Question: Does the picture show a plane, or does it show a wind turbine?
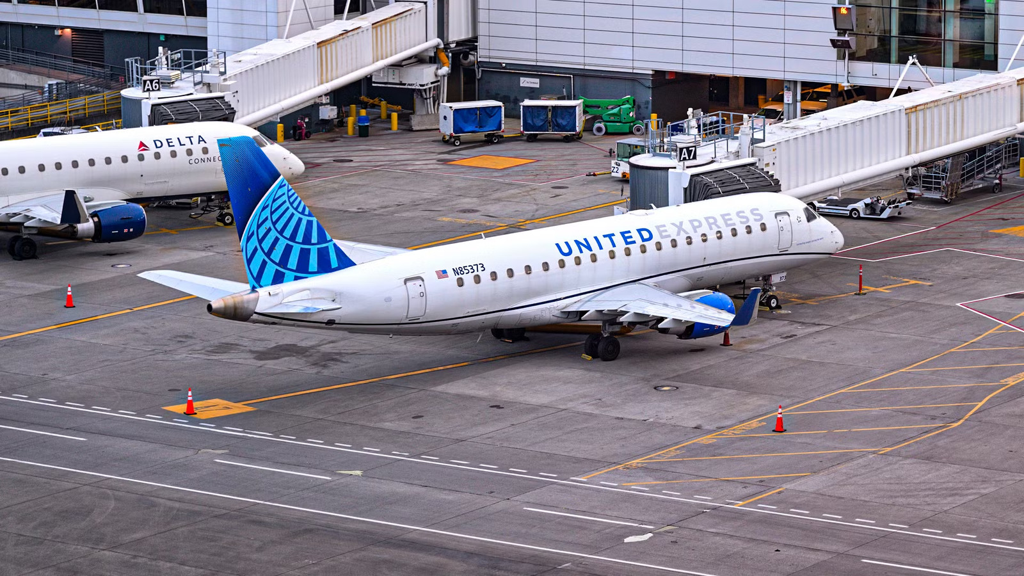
plane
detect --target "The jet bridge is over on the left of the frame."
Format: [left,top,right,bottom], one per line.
[118,0,471,206]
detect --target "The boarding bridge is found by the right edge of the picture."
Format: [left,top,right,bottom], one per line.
[618,35,1024,212]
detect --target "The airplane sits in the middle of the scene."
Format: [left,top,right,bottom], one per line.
[140,137,844,360]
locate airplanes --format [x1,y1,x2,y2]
[140,137,844,360]
[0,121,303,260]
